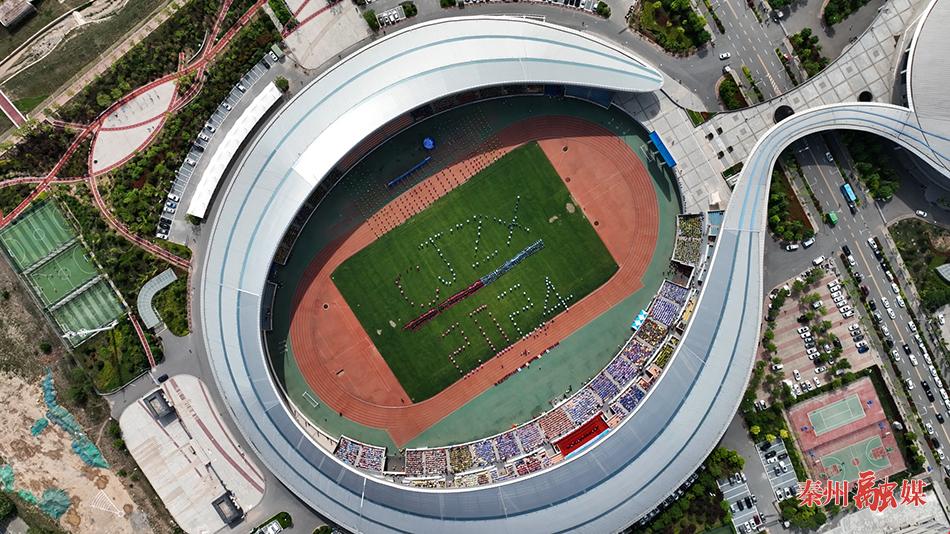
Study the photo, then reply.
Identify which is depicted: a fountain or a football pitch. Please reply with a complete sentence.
The one in the frame is a football pitch.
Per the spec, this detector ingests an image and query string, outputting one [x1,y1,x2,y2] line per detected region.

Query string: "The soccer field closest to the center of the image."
[330,141,619,402]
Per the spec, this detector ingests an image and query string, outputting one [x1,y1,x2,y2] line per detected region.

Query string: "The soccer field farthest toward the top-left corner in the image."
[0,197,79,273]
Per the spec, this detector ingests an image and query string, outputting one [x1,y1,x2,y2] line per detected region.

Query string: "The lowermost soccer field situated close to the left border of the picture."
[45,277,127,350]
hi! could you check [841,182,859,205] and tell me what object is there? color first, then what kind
blue vehicle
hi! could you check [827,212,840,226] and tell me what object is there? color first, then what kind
green vehicle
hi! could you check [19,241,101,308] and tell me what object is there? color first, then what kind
green soccer field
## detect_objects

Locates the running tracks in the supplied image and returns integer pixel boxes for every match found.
[262,95,690,462]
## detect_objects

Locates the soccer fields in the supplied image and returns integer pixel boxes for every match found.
[0,197,79,273]
[19,241,101,308]
[330,141,619,402]
[45,277,127,350]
